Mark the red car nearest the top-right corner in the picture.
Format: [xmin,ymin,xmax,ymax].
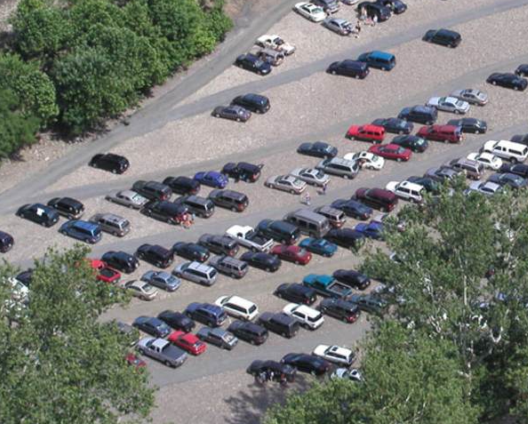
[418,124,461,145]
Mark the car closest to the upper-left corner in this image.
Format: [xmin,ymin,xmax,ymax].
[89,152,129,175]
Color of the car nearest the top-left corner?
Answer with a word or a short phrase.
black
